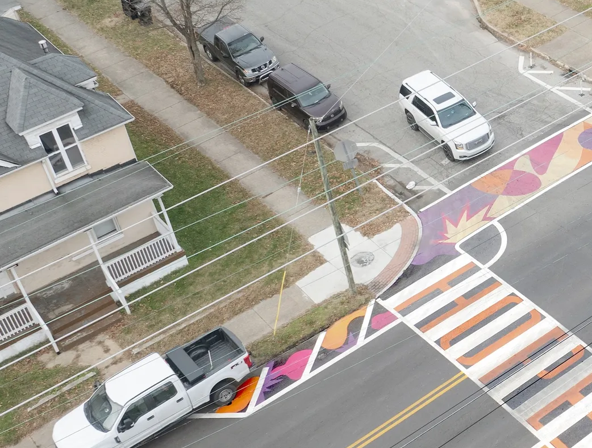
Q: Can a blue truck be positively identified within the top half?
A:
No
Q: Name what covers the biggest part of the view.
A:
paved ground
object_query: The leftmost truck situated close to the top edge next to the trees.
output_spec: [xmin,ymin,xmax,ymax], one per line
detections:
[199,19,285,88]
